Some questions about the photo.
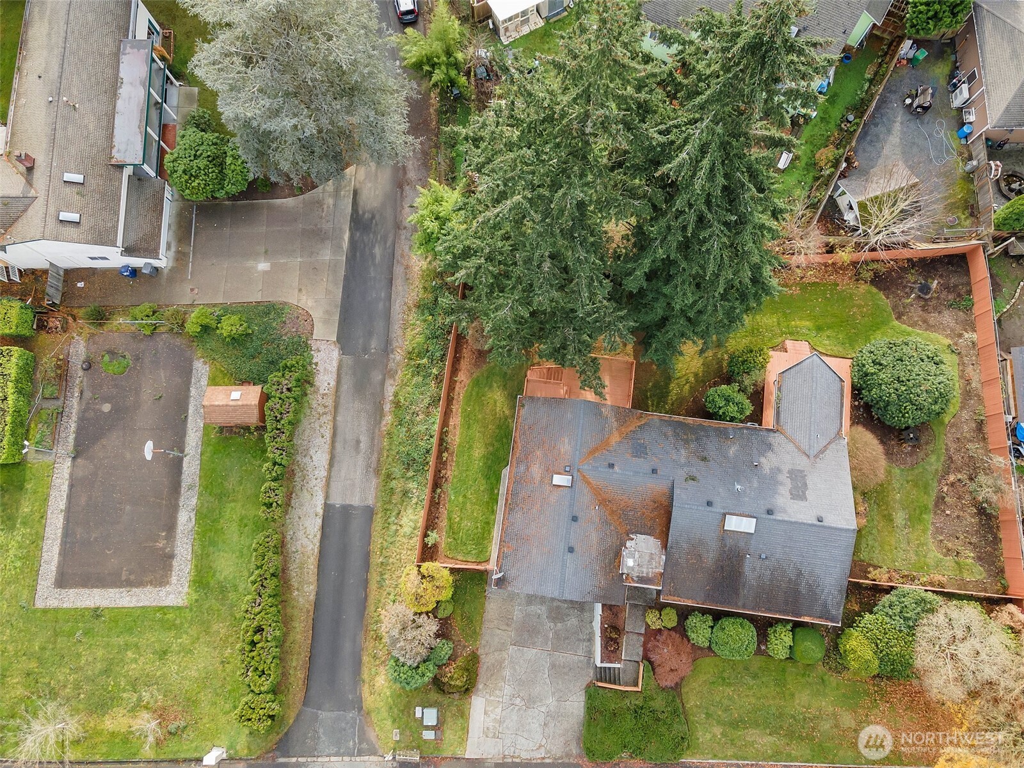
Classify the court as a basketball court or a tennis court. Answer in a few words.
basketball court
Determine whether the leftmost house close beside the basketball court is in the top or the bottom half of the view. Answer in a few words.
top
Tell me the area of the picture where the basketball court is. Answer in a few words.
left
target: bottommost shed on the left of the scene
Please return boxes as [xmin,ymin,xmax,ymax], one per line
[202,380,270,426]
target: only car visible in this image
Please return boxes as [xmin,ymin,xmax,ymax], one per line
[397,0,421,22]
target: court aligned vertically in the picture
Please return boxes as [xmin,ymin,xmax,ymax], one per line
[54,332,192,589]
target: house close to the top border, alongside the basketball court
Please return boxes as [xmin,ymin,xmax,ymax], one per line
[0,0,178,269]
